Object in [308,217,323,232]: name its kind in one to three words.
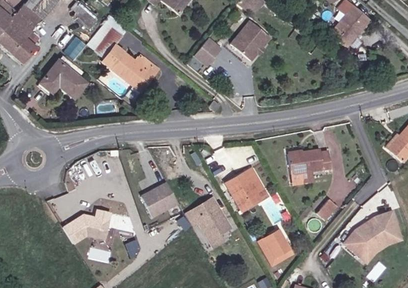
swimming pool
